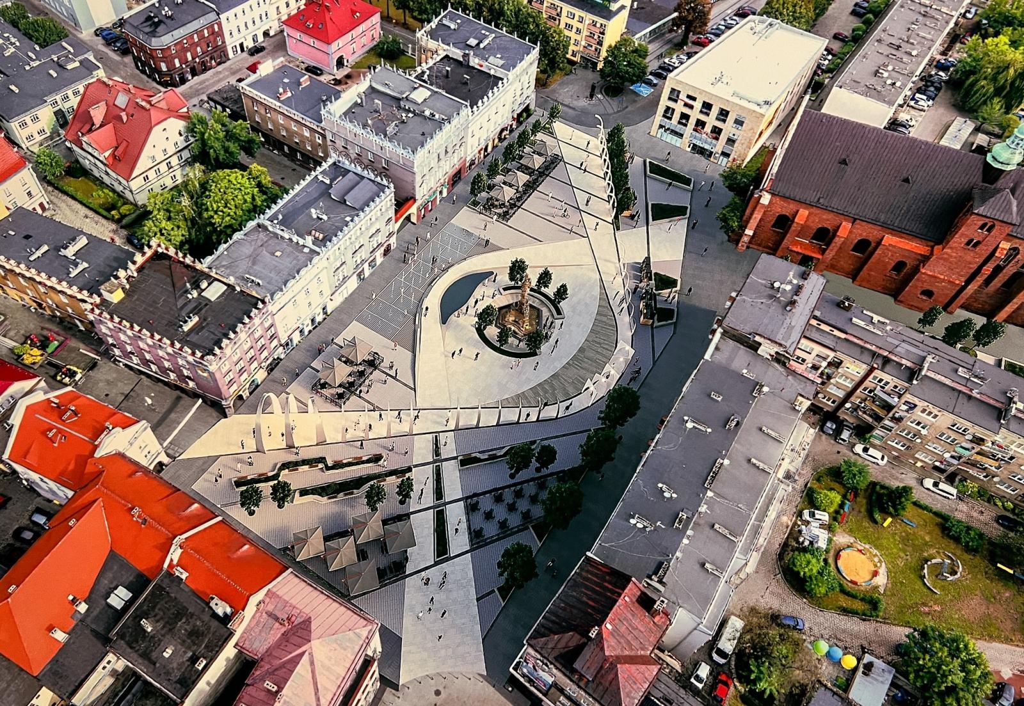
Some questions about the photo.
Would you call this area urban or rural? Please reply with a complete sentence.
From above, the setting appears urban.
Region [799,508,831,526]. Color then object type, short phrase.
white car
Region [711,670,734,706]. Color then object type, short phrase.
red car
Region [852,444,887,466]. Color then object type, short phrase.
white car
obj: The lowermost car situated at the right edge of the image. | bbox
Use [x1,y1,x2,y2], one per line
[990,676,1020,706]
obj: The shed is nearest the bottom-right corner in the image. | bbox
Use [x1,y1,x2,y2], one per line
[839,654,895,706]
